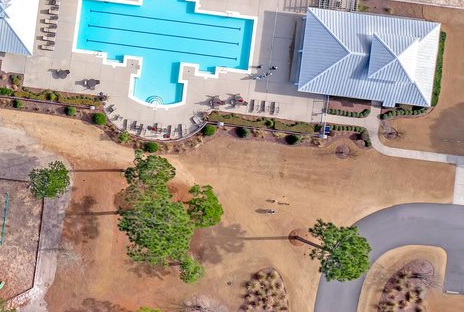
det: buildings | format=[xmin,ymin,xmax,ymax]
[293,8,441,108]
[0,0,40,56]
